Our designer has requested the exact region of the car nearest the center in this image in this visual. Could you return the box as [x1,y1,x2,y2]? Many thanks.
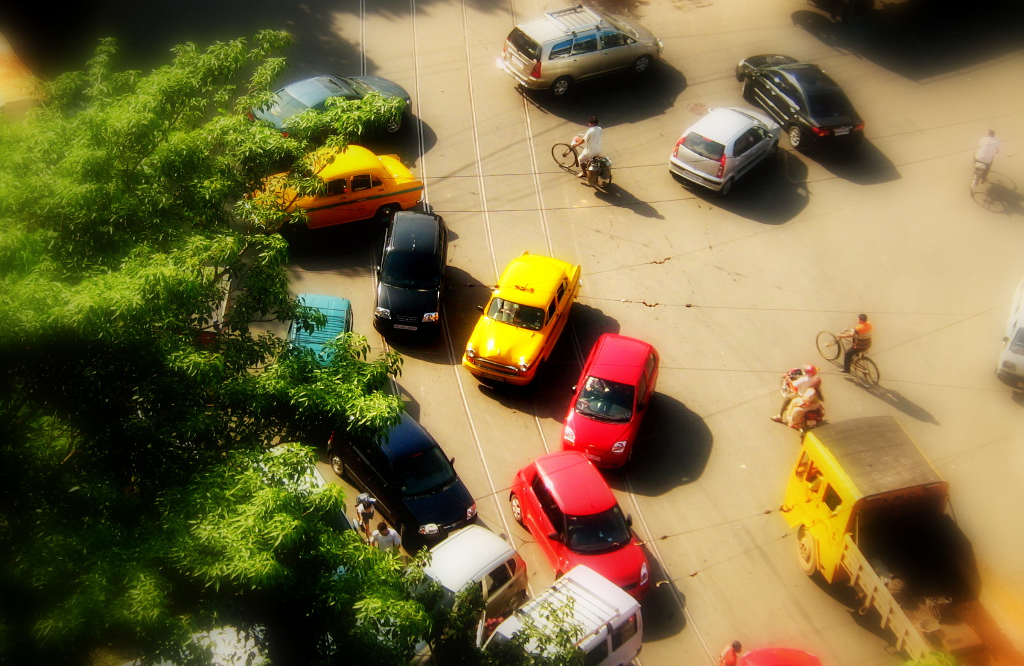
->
[460,258,578,393]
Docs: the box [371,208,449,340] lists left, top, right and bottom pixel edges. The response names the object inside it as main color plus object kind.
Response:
black car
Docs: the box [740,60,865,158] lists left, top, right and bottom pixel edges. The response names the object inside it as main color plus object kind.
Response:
black car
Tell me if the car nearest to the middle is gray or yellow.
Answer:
yellow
